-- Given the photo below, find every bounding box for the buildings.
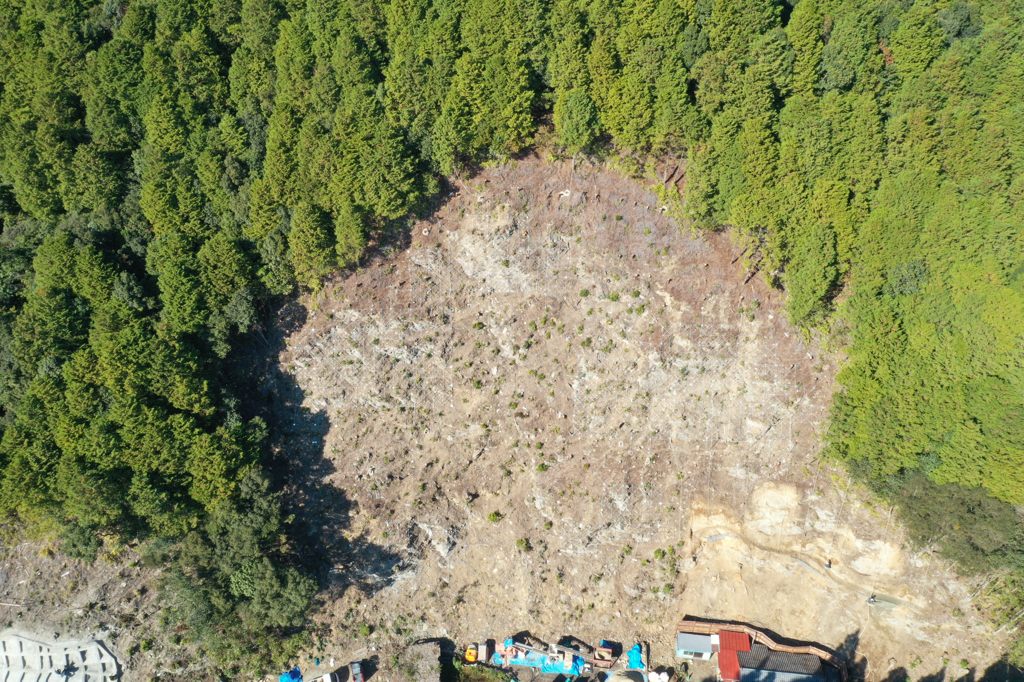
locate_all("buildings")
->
[713,631,840,682]
[674,635,714,663]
